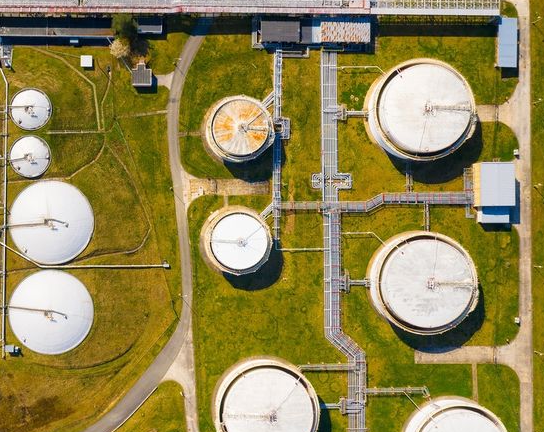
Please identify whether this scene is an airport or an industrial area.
industrial area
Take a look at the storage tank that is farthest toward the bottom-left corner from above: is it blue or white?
white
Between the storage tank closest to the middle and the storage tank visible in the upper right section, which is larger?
the storage tank visible in the upper right section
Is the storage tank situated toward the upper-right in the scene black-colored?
No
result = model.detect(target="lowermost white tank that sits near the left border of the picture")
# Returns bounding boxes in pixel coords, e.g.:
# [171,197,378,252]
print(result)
[8,269,94,355]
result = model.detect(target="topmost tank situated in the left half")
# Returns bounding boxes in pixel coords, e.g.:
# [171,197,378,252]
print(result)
[10,88,52,131]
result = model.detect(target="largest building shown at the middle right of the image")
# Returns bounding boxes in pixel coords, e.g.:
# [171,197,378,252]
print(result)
[472,162,516,207]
